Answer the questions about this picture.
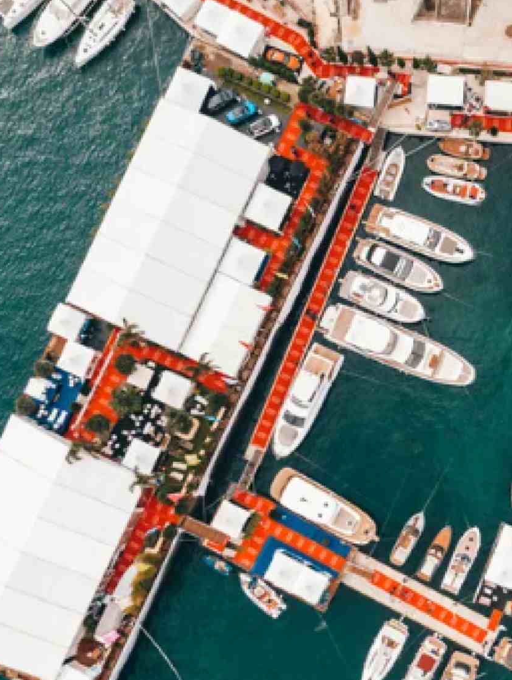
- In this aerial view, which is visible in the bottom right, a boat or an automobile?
boat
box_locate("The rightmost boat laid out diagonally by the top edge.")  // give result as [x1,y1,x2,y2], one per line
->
[73,0,149,65]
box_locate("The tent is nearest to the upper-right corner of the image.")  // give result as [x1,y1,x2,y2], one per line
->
[344,76,378,113]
